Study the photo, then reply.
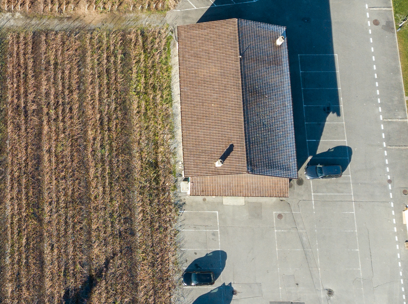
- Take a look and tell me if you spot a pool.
No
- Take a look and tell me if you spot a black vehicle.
Yes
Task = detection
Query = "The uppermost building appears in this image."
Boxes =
[177,18,300,179]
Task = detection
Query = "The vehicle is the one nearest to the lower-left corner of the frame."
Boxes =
[183,269,218,288]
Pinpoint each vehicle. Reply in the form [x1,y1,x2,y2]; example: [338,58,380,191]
[307,164,348,182]
[183,269,218,288]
